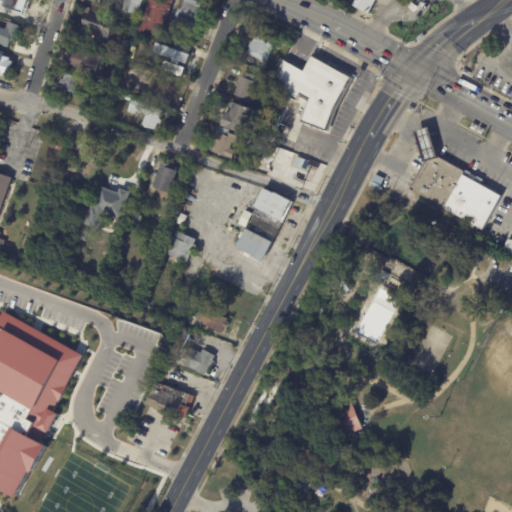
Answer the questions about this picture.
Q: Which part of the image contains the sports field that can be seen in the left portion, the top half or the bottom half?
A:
bottom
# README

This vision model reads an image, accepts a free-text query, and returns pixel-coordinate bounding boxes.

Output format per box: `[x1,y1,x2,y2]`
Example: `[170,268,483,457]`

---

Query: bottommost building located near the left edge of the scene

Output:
[0,312,82,497]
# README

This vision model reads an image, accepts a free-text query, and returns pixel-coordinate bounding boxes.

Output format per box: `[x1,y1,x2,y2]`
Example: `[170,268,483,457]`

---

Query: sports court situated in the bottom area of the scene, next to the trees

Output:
[416,326,453,366]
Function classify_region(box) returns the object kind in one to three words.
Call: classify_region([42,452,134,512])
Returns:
sports field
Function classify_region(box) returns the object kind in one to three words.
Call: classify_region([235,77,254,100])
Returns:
house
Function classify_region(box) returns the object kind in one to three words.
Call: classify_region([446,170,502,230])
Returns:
building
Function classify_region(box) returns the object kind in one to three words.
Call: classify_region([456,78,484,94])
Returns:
vehicle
